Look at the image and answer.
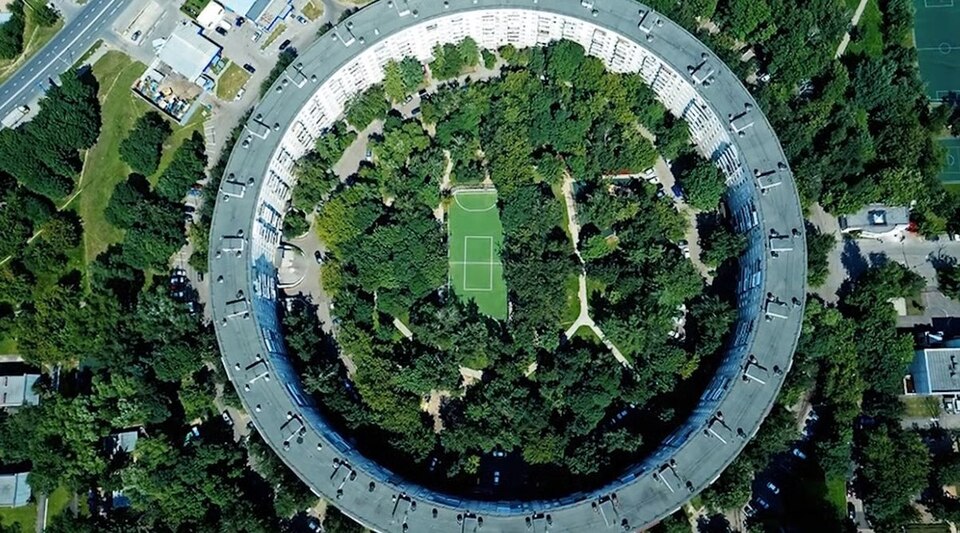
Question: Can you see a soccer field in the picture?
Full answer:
Yes, there's a soccer field here.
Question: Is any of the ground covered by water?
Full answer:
No, there's no water in this view.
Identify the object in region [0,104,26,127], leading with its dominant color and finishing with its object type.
white truck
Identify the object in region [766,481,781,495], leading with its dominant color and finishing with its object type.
blue car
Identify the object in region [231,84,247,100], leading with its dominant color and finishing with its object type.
white vehicle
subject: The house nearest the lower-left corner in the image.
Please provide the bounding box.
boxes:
[0,471,38,507]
